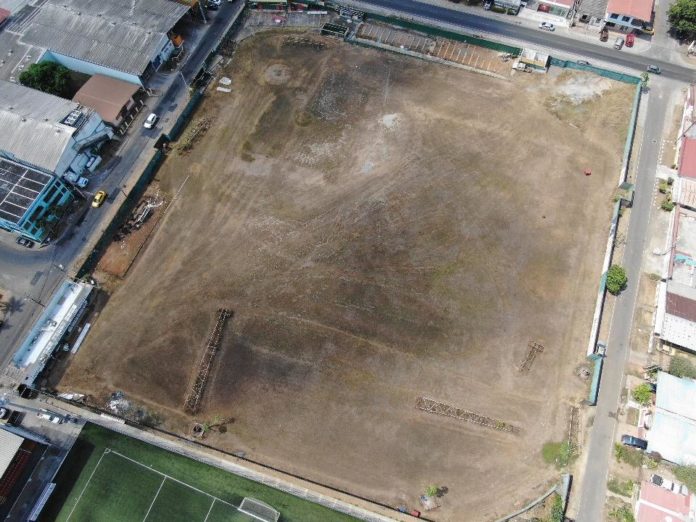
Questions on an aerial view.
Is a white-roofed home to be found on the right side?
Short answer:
Yes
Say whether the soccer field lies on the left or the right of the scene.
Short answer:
left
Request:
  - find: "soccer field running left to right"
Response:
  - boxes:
[37,421,368,522]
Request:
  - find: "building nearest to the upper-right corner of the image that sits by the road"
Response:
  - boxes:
[598,0,655,42]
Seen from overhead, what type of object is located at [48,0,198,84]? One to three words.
building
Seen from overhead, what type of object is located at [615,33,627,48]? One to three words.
vehicle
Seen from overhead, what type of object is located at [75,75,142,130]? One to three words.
house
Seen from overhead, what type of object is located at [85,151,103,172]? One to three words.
vehicle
